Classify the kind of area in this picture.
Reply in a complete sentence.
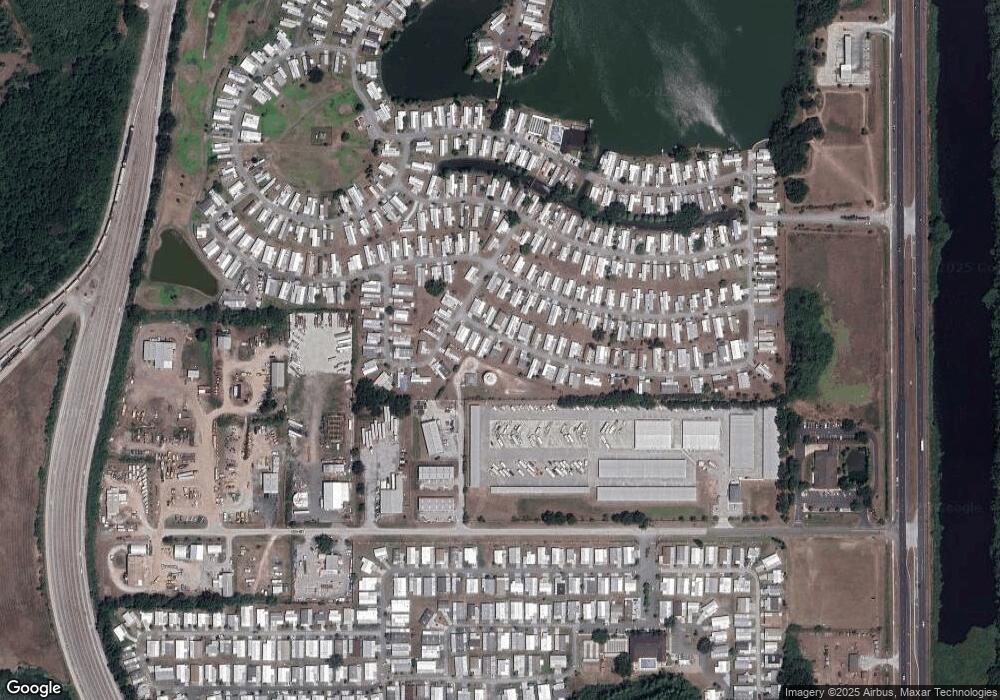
It's a residential area.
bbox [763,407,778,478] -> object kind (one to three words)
building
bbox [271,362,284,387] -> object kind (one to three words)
barn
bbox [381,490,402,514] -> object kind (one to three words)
building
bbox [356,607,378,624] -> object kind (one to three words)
house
